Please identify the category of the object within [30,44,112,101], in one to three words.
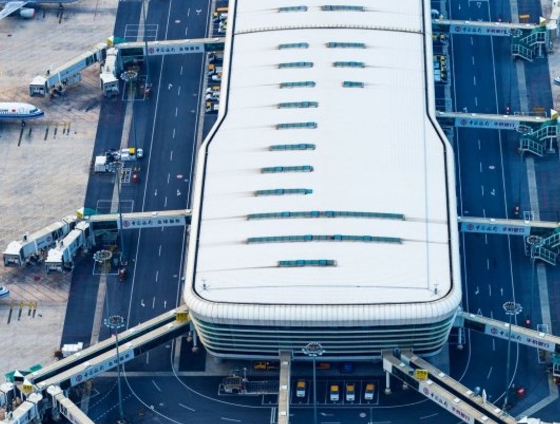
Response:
jet bridge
